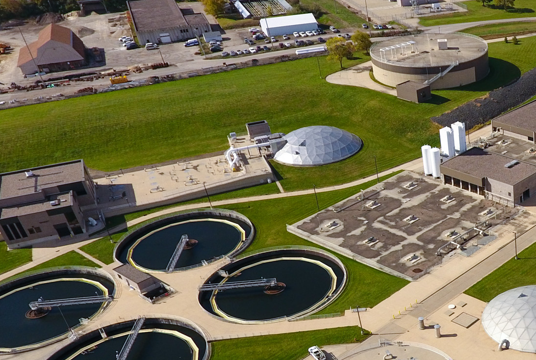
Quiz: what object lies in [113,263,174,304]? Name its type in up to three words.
building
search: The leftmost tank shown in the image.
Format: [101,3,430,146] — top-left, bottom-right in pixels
[0,266,120,358]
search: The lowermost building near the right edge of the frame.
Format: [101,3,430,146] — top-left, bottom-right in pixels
[441,147,536,206]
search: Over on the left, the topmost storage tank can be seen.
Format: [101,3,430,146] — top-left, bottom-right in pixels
[112,208,253,276]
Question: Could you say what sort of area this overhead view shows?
industrial area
